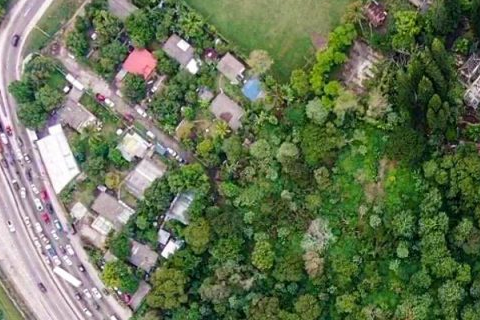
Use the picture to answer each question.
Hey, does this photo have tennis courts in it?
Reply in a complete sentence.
No, I can see no tennis court in this picture.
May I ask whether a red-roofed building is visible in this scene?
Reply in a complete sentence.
Yes, the picture does show a red-roofed building.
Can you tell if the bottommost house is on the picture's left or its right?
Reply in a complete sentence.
It is on the left.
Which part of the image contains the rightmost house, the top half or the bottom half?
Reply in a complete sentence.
The rightmost house is in the top half of the image.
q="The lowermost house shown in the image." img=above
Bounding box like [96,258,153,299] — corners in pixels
[128,282,152,311]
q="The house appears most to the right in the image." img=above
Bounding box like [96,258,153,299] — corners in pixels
[458,55,480,110]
